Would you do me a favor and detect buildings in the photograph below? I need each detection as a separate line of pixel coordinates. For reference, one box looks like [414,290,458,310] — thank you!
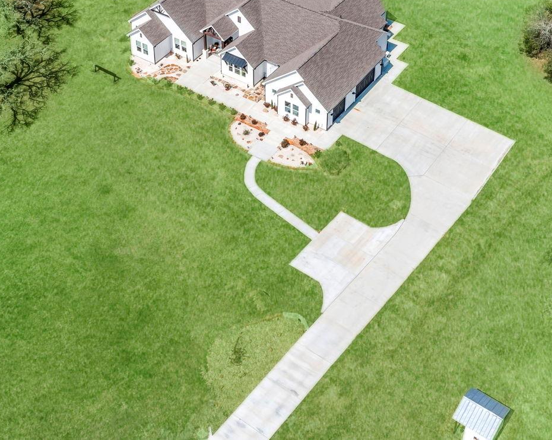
[453,390,508,440]
[126,0,394,132]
